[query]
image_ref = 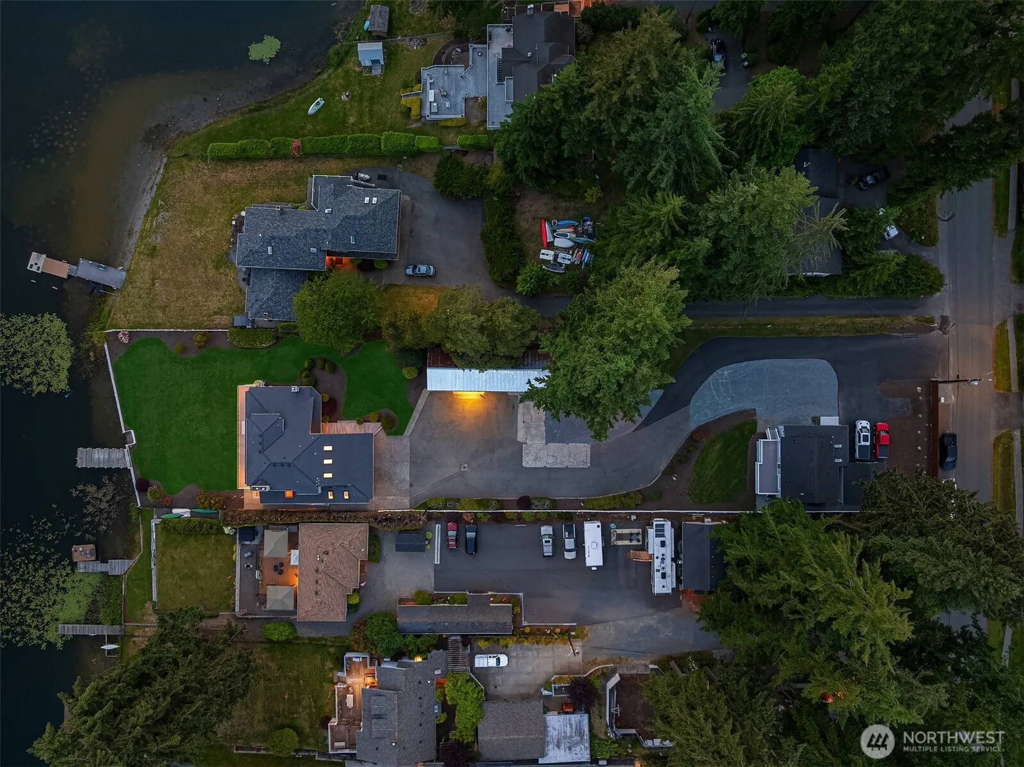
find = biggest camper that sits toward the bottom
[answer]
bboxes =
[646,514,675,594]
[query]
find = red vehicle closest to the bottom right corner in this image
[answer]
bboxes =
[873,423,892,460]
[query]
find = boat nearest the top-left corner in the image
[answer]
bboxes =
[307,98,324,117]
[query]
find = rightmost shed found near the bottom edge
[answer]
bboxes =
[542,710,589,762]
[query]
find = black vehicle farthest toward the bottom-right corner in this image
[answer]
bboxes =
[939,433,960,471]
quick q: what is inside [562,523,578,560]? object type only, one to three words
vehicle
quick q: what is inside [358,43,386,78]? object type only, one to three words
shed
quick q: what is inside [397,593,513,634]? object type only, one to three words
building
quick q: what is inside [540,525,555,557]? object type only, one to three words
car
